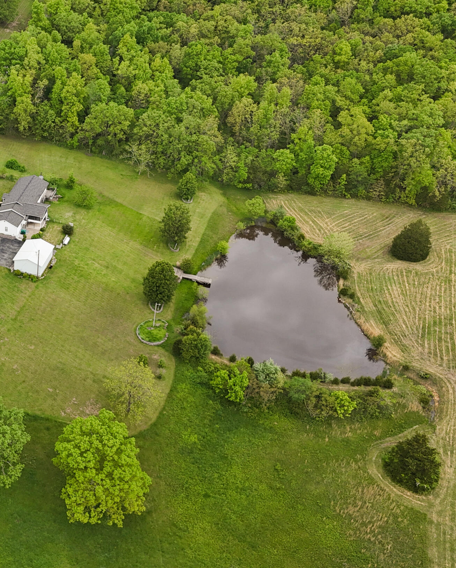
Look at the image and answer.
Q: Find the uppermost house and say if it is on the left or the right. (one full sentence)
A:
The uppermost house is on the left side of the image.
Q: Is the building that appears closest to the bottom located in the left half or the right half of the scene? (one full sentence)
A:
The building that appears closest to the bottom sits on the left side.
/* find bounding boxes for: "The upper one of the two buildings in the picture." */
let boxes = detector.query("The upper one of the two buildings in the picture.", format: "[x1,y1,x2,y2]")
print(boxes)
[0,172,58,236]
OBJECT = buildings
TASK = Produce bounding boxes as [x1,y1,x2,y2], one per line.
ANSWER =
[0,172,58,236]
[13,238,54,276]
